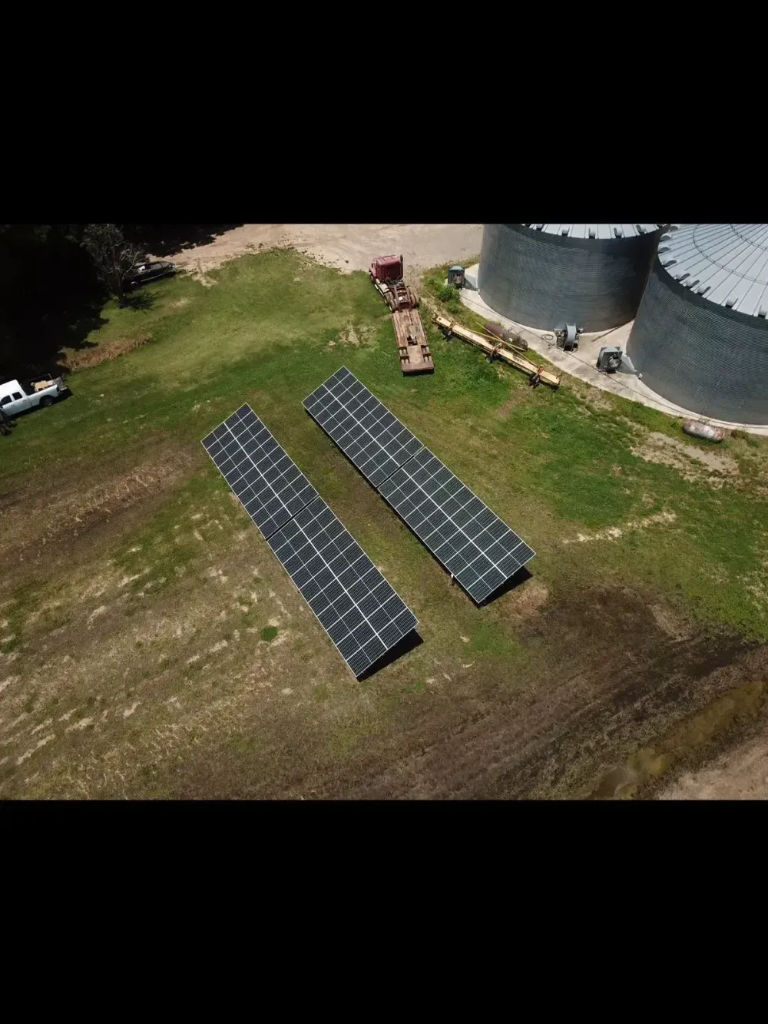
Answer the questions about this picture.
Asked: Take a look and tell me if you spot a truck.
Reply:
Yes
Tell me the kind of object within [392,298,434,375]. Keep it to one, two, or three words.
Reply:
trailer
